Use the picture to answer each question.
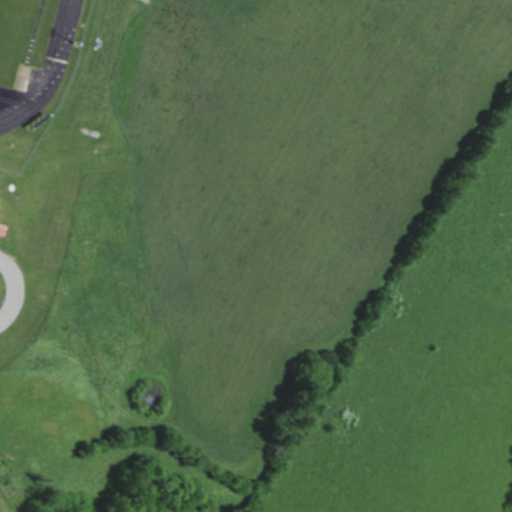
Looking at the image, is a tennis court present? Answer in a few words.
No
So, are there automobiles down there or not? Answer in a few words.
No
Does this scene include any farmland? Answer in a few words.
Yes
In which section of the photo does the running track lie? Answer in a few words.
top left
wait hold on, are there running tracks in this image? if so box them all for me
[0,0,82,134]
